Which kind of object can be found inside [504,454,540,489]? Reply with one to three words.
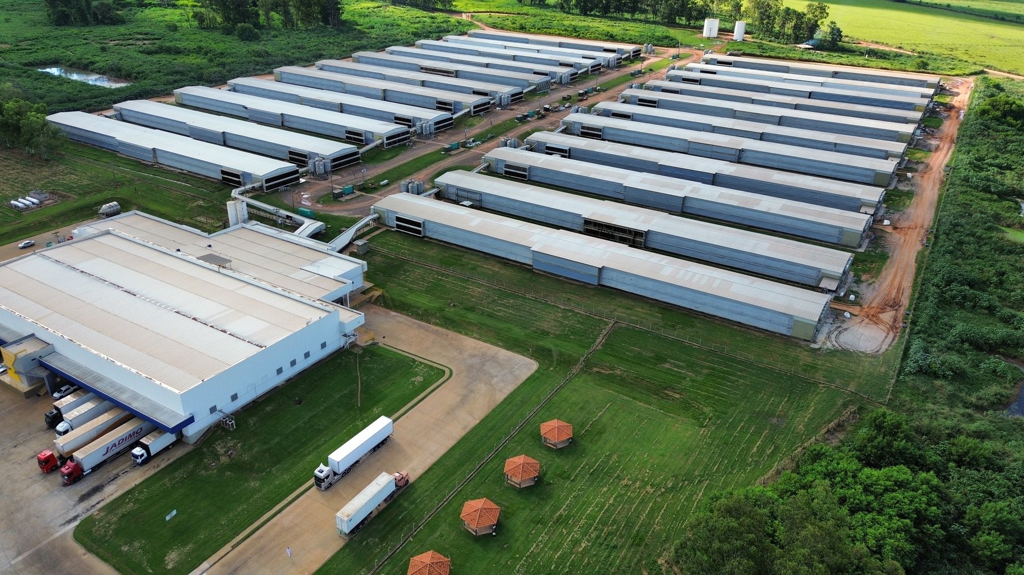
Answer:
gazebo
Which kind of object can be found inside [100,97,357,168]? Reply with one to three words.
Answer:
barn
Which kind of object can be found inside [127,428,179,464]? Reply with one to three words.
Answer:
truck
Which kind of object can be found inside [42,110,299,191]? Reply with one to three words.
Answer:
barn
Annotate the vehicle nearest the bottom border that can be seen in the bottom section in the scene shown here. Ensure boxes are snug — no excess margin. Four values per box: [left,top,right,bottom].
[335,464,413,534]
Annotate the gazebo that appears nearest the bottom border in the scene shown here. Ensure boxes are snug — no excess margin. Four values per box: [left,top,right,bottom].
[407,549,450,575]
